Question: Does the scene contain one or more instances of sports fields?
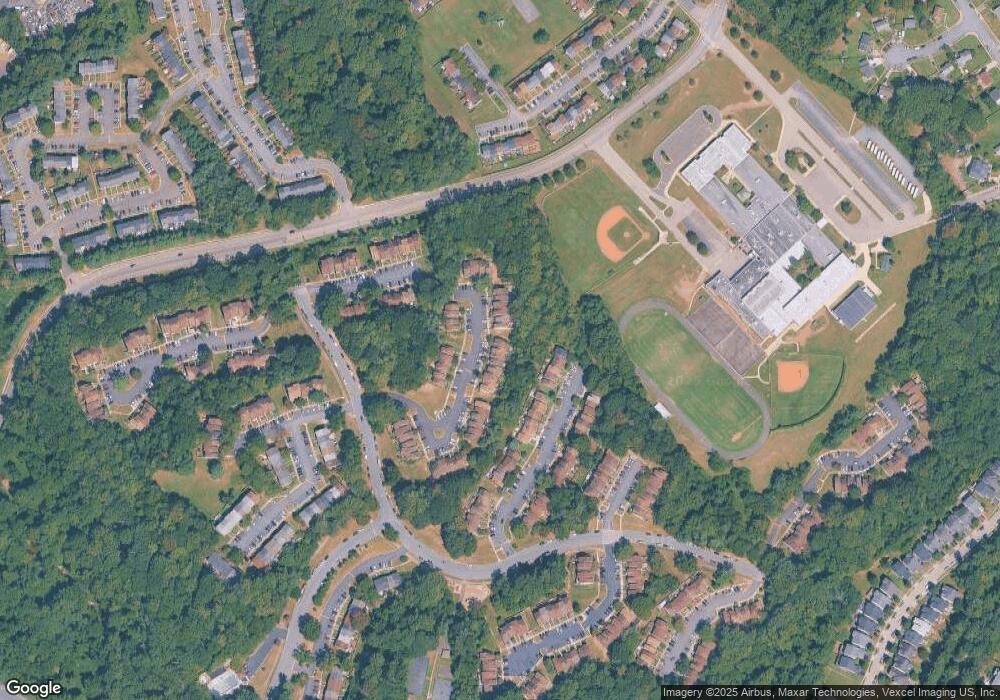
Yes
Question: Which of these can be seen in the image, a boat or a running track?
running track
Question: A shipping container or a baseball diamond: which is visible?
baseball diamond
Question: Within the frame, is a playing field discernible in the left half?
No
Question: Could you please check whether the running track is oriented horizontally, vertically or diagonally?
diagonally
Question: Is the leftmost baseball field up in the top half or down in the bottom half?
top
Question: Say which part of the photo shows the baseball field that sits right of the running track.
right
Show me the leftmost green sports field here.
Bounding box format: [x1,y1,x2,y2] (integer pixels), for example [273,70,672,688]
[625,305,764,452]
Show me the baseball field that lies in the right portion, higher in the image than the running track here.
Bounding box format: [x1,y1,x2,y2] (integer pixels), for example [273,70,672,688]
[598,206,661,263]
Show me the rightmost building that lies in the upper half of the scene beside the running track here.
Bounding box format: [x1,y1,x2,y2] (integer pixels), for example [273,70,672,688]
[682,123,859,341]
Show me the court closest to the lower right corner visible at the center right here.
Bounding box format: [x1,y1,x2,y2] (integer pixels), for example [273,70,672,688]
[717,327,768,376]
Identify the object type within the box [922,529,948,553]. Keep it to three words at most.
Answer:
house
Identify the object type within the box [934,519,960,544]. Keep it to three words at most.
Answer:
house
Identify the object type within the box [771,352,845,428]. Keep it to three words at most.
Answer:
baseball field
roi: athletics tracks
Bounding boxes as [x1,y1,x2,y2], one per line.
[618,297,771,460]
